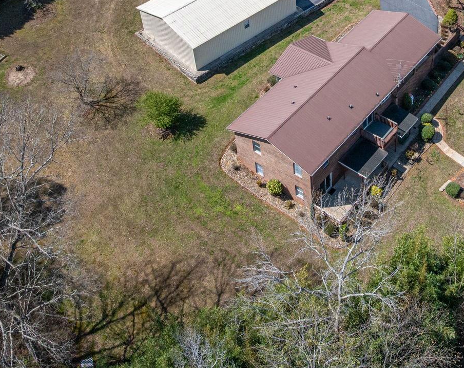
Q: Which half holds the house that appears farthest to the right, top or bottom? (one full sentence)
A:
It is in the top half that the house that appears farthest to the right appears.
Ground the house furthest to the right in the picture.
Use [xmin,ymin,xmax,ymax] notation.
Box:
[226,10,442,205]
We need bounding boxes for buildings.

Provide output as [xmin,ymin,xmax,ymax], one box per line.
[226,10,442,205]
[136,0,298,71]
